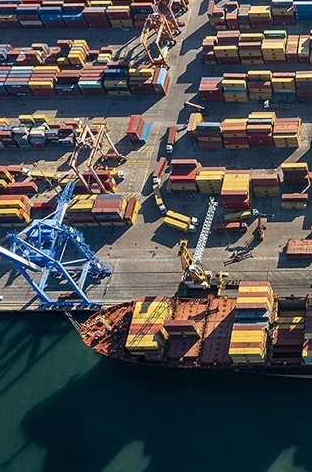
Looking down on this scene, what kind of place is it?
port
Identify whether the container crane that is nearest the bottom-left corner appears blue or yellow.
blue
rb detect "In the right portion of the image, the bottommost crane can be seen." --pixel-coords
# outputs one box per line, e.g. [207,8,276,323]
[161,196,250,296]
